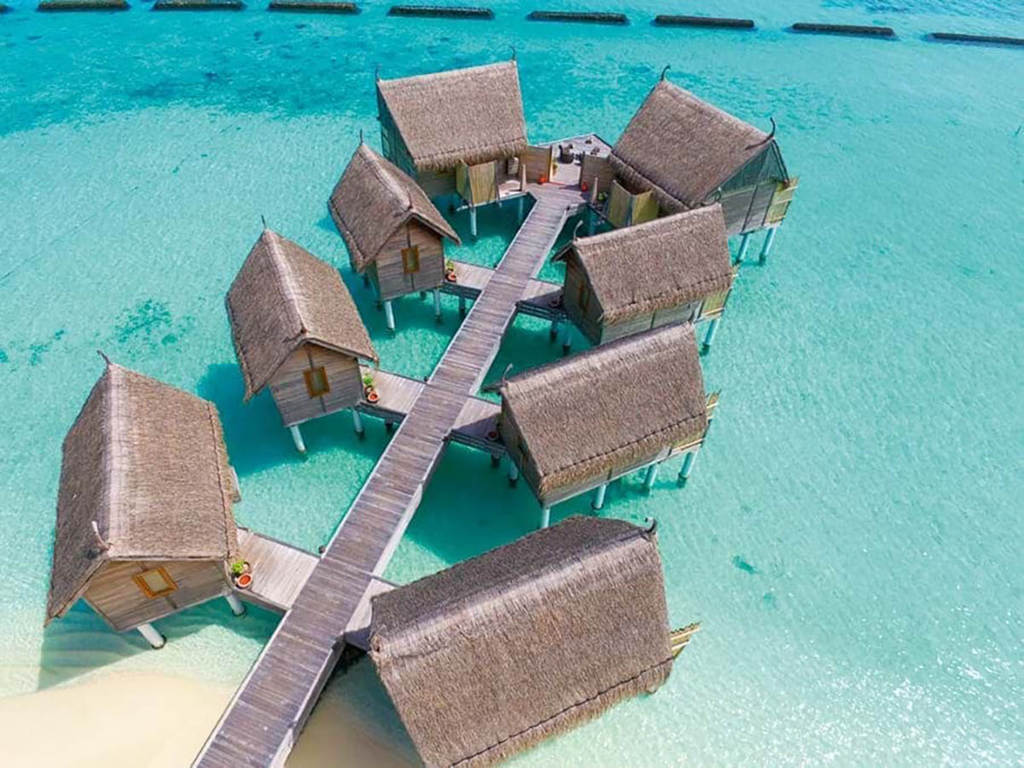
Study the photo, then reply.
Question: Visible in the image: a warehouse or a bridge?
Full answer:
It is a bridge that can be seen here.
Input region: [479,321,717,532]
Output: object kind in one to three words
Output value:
house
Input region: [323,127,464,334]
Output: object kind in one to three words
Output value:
house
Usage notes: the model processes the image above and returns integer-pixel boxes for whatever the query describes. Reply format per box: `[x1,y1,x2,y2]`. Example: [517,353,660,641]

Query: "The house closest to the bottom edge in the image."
[368,515,688,768]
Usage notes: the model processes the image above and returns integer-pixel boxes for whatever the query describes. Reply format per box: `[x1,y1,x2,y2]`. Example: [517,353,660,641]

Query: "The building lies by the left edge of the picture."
[39,347,246,650]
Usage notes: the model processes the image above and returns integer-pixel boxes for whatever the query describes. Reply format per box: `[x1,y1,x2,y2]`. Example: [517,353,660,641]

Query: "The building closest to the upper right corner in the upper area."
[607,64,794,260]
